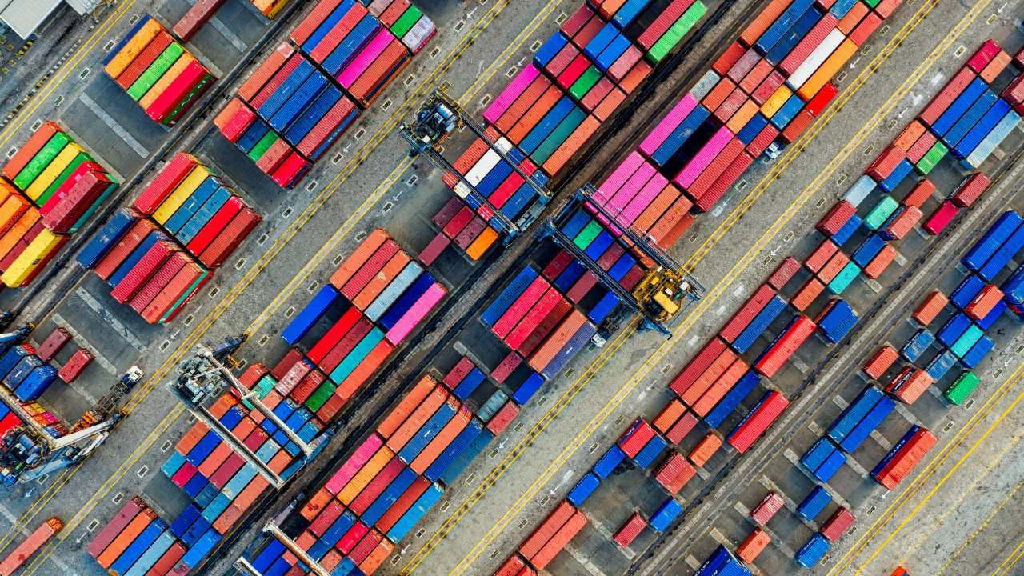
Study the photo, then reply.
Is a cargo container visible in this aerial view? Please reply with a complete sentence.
Yes, I can see a cargo container in this picture.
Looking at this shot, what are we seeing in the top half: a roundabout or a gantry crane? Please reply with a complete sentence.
The feature located in the top half is a gantry crane.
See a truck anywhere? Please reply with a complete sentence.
Yes, you can see a truck in this photo.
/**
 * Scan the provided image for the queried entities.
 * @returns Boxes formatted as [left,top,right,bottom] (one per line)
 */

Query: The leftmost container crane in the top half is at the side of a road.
[399,86,556,250]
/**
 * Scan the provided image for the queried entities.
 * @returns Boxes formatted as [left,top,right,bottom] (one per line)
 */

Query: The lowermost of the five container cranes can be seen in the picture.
[230,482,334,576]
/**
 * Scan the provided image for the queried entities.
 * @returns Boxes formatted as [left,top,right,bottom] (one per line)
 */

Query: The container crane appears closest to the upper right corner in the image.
[533,183,706,341]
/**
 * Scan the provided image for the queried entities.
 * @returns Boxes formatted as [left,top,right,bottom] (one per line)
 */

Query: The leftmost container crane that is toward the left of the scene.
[0,380,127,482]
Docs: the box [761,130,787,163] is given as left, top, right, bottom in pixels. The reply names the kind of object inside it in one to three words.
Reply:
truck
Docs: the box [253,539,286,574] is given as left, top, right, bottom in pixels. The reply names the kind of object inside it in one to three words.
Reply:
shipping container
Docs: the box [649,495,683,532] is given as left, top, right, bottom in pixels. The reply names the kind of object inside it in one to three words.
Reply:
shipping container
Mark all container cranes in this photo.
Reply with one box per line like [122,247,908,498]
[399,86,556,250]
[0,380,127,482]
[533,183,706,341]
[230,482,334,576]
[162,325,350,489]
